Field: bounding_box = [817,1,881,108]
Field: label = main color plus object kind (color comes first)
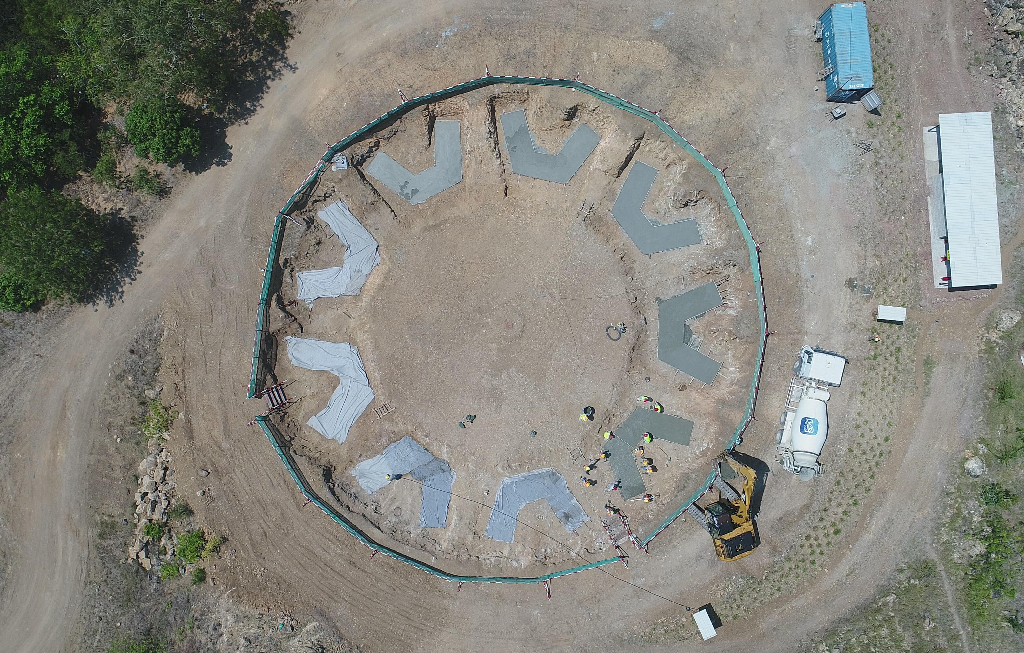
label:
blue shipping container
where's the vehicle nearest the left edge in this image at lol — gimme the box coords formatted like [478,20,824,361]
[687,454,761,563]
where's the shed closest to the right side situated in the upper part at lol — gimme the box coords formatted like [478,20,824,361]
[919,110,1004,288]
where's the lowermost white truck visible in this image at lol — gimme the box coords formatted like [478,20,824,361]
[766,347,849,480]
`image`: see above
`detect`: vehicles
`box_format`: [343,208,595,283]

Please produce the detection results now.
[687,454,761,563]
[766,347,849,480]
